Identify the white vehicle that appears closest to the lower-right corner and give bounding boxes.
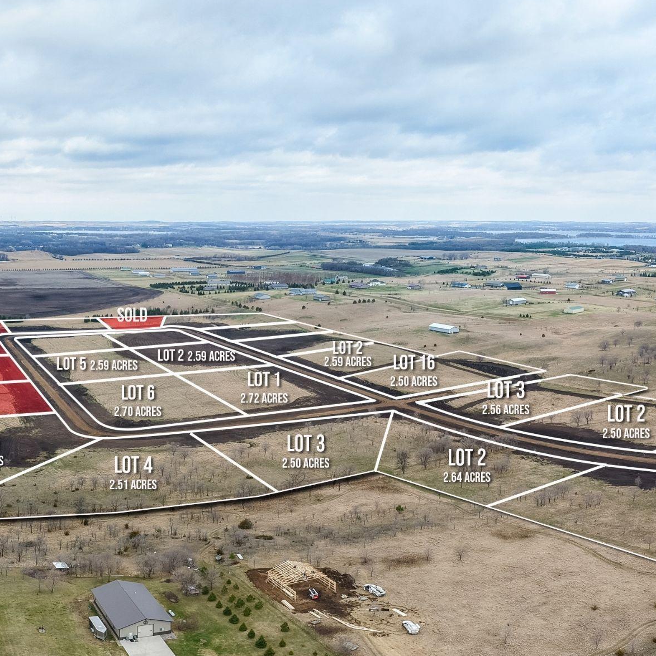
[405,621,422,634]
